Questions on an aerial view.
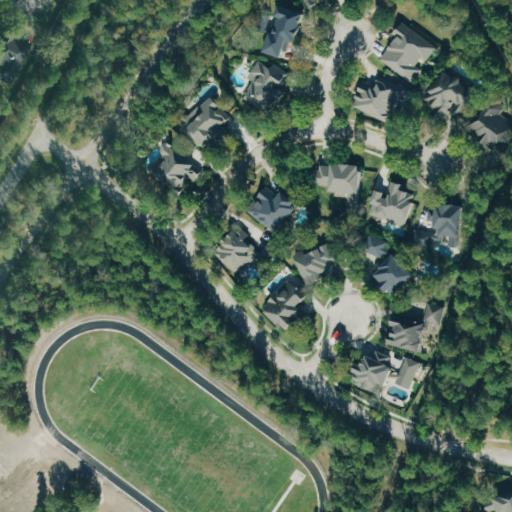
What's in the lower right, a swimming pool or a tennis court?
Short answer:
swimming pool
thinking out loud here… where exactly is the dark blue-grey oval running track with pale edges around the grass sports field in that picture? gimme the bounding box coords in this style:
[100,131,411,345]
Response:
[32,317,330,512]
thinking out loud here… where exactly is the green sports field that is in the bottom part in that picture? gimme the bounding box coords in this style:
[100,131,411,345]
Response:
[45,330,316,512]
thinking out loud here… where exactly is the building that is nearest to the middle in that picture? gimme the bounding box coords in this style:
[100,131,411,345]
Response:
[215,225,255,276]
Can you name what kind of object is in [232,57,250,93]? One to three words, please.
swimming pool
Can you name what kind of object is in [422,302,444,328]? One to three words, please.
building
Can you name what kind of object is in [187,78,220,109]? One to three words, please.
swimming pool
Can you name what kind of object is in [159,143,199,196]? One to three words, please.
house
